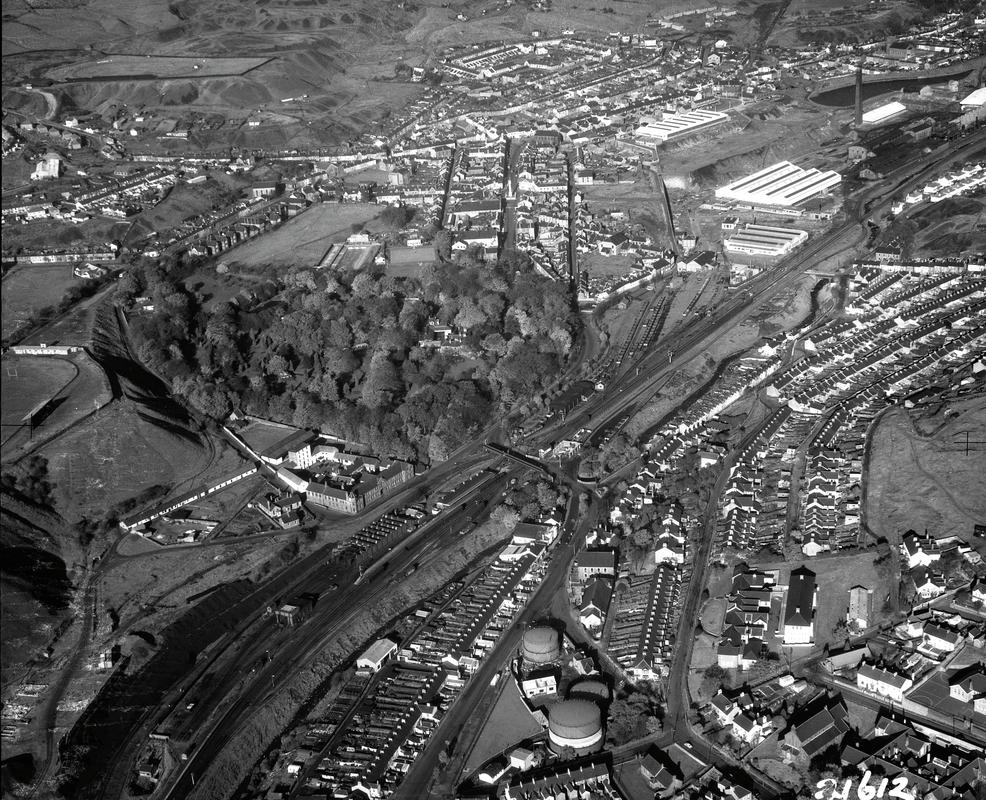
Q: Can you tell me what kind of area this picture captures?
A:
residential area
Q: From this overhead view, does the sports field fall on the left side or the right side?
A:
left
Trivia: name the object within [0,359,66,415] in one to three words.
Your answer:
sports field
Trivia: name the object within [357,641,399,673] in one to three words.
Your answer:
shed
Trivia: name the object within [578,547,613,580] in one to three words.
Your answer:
building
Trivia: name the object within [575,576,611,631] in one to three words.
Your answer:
house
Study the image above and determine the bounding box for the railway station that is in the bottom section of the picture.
[350,473,501,582]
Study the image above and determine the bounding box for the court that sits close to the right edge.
[909,672,975,717]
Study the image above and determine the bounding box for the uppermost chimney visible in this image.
[852,65,865,126]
